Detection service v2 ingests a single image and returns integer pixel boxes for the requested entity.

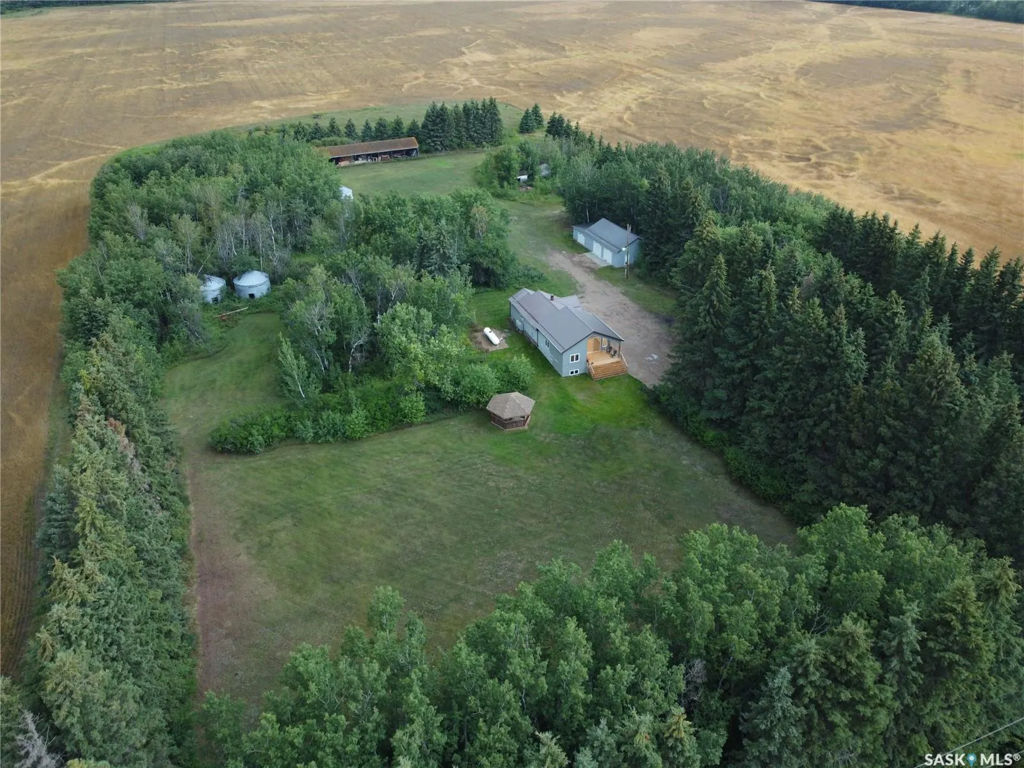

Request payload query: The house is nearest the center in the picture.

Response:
[509,287,630,380]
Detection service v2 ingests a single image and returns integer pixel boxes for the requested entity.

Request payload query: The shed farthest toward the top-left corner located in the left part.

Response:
[320,136,421,164]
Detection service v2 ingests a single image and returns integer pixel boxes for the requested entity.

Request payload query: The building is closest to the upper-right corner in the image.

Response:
[571,217,640,267]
